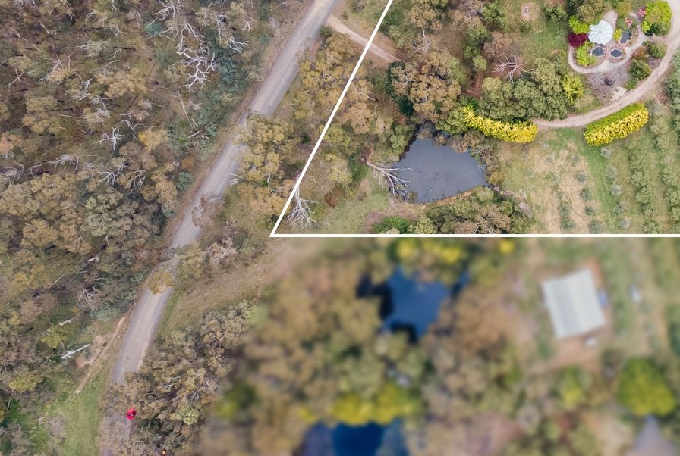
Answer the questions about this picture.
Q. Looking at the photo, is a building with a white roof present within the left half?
No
